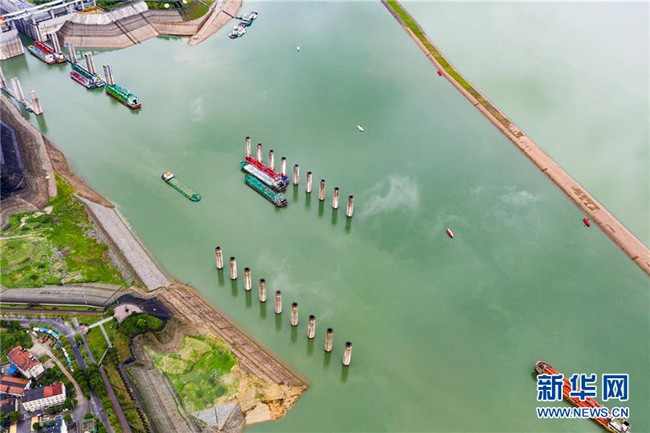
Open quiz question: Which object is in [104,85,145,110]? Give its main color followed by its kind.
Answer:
green ship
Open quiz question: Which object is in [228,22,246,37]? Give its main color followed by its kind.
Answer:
white boat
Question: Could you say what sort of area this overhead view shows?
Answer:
port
